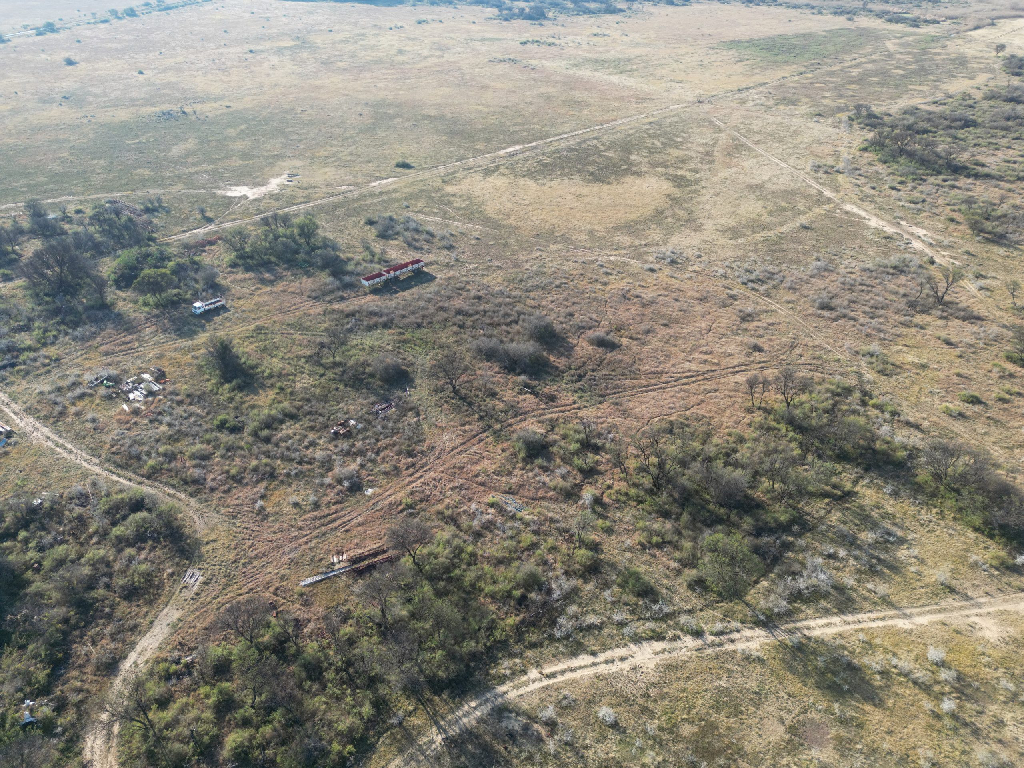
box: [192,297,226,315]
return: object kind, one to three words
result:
vehicle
